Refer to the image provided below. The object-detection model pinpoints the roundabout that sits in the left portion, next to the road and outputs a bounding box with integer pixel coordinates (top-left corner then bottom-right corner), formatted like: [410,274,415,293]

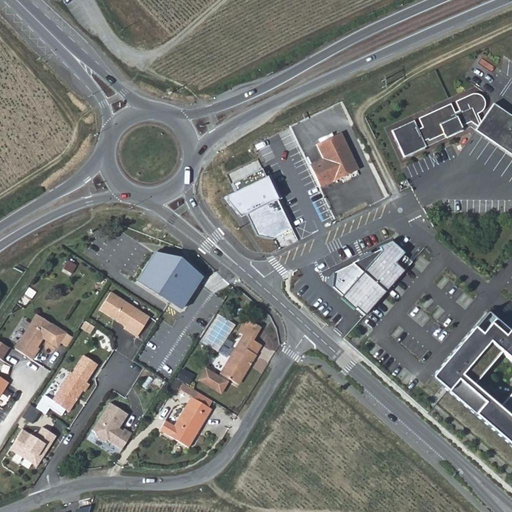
[96,97,200,210]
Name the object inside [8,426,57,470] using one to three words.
house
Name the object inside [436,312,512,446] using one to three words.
building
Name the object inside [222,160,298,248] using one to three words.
building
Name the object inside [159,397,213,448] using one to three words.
house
